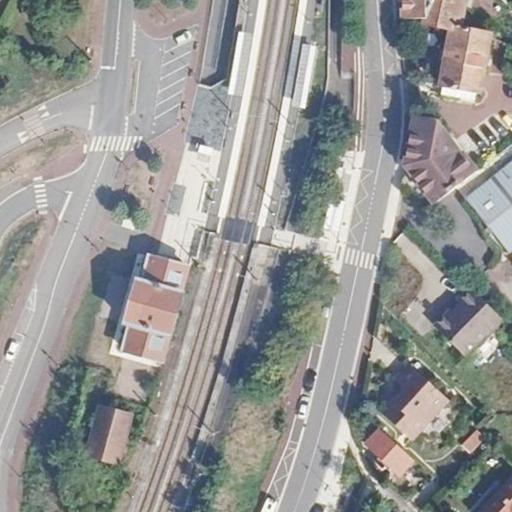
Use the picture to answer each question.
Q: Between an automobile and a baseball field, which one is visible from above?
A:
automobile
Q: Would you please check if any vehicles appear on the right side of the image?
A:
Yes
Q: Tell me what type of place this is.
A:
residential area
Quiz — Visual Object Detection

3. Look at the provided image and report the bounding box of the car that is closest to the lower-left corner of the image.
[4,337,20,359]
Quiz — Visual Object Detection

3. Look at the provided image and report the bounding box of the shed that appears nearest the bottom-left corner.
[88,406,134,464]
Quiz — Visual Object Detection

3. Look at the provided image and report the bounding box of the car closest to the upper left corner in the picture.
[172,30,193,45]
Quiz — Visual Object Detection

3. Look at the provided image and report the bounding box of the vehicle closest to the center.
[302,368,316,390]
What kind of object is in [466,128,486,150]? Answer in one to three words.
car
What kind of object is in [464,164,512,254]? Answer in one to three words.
building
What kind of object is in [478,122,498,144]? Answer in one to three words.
car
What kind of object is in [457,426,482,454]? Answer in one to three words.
shed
